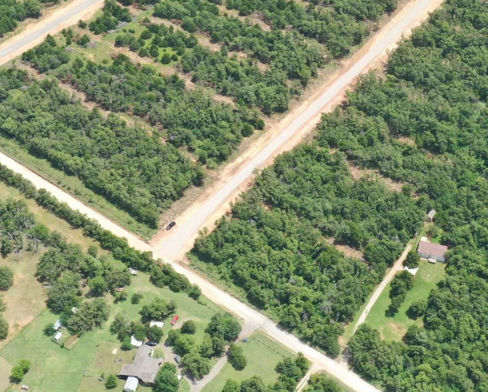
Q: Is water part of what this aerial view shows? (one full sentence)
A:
No, no water is visible.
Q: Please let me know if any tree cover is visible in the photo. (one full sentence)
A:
Yes, tree cover can be seen from above here.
